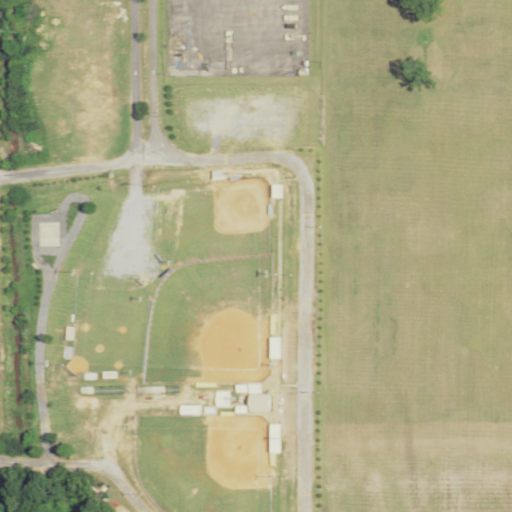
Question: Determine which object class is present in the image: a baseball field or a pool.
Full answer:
It is a baseball field that can be seen here.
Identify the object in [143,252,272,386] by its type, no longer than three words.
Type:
baseball field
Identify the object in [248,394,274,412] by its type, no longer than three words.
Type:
building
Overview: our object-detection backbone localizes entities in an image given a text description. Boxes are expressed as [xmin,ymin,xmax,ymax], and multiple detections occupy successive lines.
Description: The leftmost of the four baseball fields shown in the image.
[66,276,148,376]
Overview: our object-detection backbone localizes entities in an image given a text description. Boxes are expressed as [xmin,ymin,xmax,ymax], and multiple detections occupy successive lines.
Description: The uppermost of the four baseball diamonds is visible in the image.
[166,178,271,265]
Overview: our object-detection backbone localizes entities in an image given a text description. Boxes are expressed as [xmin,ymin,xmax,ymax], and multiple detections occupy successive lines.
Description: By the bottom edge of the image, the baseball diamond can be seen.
[132,416,270,512]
